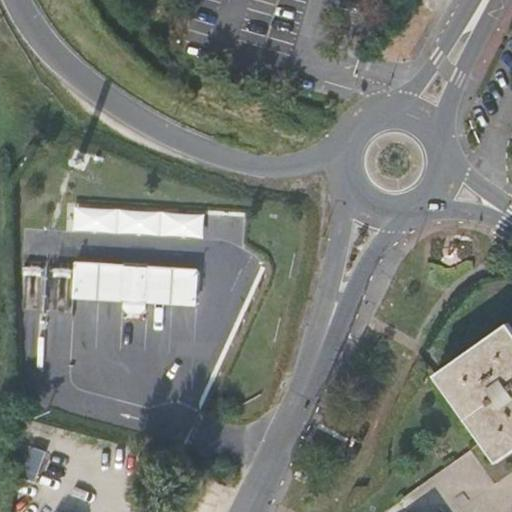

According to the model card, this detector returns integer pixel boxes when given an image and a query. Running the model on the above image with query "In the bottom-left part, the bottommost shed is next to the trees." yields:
[26,447,50,480]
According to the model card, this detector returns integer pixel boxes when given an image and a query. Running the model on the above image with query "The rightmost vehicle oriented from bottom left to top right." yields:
[167,362,180,379]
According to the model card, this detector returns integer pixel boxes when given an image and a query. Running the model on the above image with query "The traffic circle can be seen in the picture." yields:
[312,82,478,229]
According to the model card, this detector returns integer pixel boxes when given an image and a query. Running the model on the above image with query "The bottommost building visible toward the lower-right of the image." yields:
[384,446,512,512]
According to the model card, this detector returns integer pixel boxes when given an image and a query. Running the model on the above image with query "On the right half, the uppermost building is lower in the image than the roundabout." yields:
[430,324,512,464]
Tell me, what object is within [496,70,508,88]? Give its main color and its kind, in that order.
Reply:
white vehicle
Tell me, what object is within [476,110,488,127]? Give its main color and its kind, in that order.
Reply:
white vehicle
